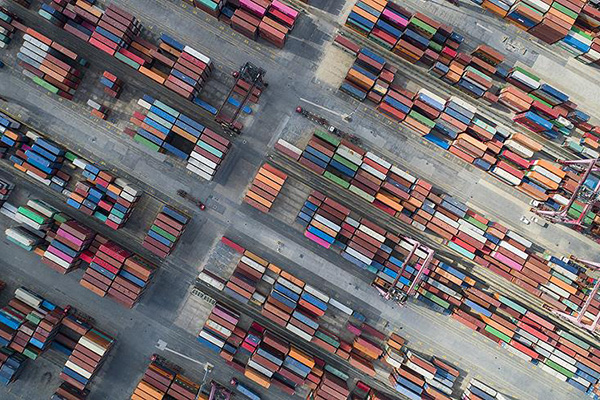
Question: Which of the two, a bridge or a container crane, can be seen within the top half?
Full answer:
Visible within the top half is a container crane.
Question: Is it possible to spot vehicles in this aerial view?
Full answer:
Yes, a vehicle appears in the view.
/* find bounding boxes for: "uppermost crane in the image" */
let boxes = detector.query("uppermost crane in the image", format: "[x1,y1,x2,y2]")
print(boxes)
[213,59,272,136]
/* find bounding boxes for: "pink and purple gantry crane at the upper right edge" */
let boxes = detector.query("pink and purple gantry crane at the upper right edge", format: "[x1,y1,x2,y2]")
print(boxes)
[523,151,600,221]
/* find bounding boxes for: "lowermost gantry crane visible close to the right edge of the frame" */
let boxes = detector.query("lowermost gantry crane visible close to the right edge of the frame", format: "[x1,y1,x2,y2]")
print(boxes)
[537,253,600,334]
